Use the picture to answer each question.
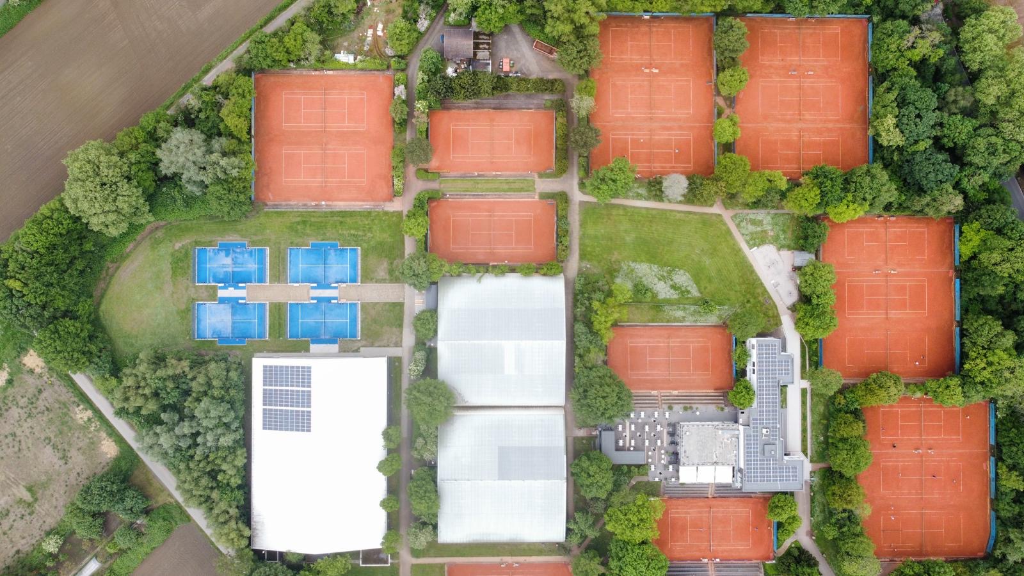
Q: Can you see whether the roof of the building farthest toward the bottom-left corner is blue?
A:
No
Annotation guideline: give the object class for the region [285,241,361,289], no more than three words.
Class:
sports court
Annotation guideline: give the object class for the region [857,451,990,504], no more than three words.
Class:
tennis court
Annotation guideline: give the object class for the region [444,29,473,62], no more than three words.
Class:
shed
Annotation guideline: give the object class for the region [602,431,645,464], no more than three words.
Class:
building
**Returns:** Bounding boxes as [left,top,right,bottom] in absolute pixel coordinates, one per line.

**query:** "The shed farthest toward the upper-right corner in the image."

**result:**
[789,252,814,267]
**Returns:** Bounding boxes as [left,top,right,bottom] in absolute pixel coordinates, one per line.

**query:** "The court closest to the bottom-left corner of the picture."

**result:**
[191,297,269,345]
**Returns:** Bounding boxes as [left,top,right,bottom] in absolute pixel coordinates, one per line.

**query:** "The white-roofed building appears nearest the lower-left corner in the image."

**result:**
[253,356,392,554]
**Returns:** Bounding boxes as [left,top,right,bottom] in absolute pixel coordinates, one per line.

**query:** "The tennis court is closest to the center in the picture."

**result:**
[429,200,556,264]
